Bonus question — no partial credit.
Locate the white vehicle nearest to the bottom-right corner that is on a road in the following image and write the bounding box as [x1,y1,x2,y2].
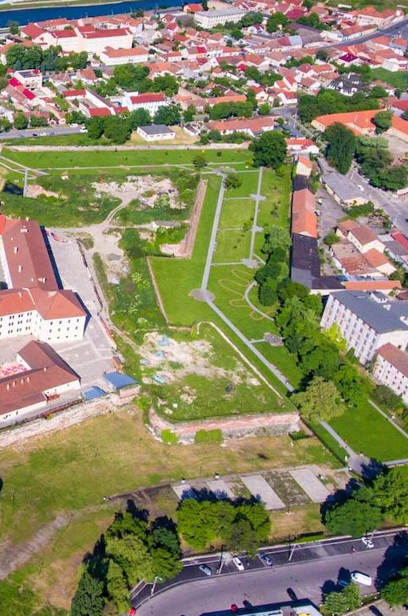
[348,568,377,588]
